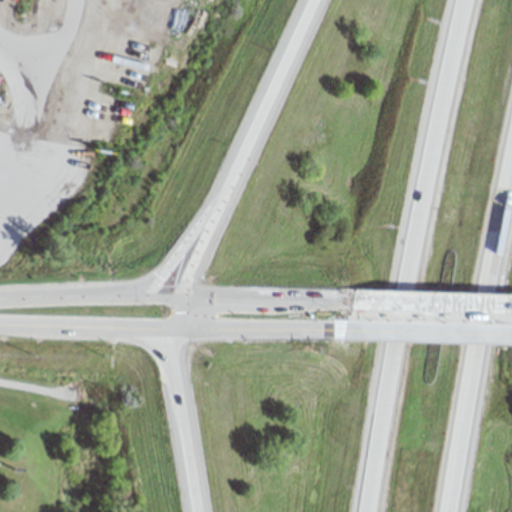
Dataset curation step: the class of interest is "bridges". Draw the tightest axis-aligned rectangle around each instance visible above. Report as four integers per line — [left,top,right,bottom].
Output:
[350,290,512,344]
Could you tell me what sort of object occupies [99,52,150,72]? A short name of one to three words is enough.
vehicle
